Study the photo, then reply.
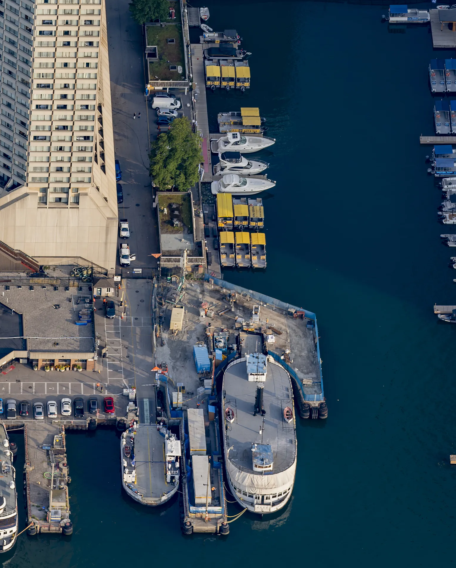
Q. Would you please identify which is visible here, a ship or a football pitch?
ship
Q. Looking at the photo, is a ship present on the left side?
Yes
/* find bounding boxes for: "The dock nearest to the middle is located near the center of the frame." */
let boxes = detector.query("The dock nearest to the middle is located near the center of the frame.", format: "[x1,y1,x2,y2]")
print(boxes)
[203,205,221,273]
